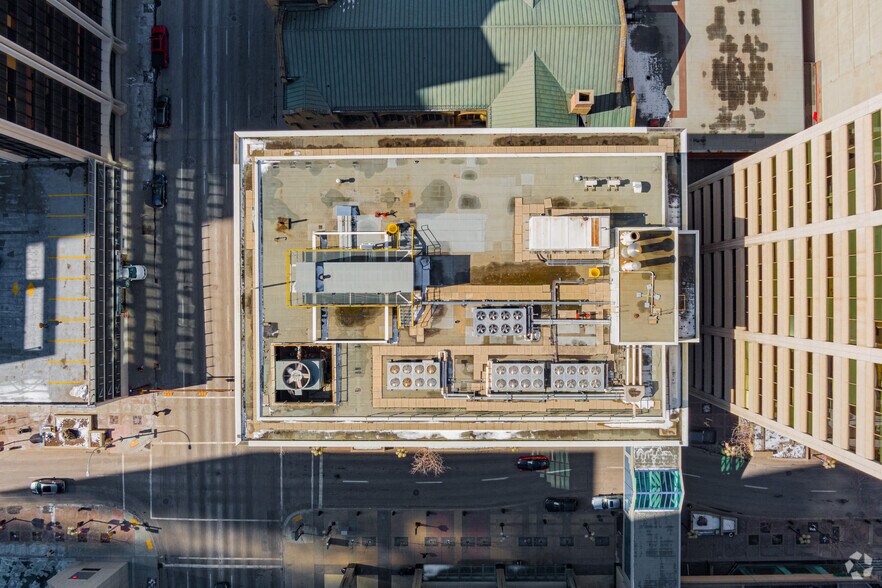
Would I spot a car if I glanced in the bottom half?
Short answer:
Yes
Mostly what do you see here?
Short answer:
buildings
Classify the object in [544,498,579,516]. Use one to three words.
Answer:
car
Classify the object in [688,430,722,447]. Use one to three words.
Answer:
car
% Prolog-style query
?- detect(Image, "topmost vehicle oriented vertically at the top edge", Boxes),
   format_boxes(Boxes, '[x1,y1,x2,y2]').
[149,25,167,66]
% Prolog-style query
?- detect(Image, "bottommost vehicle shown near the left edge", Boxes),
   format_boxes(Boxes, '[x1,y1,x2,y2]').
[29,480,65,497]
